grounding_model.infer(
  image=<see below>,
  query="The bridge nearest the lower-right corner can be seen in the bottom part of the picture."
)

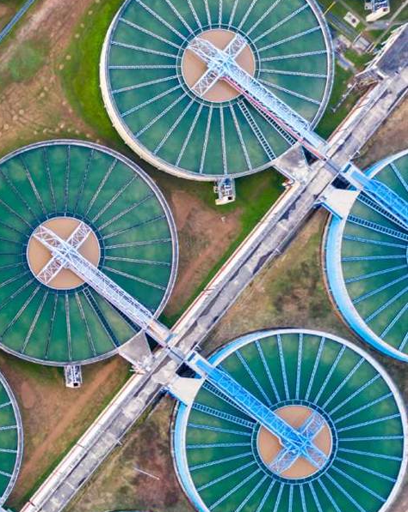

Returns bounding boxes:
[179,350,315,460]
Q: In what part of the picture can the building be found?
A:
top right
